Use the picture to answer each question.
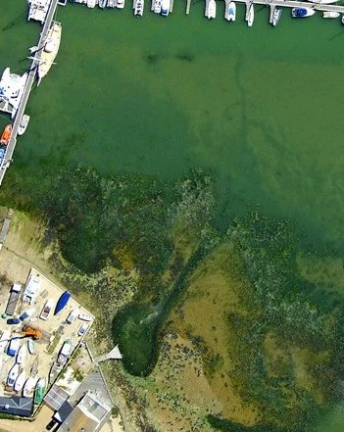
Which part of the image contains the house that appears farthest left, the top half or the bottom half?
bottom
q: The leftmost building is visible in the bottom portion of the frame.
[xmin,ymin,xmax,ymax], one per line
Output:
[0,394,36,416]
